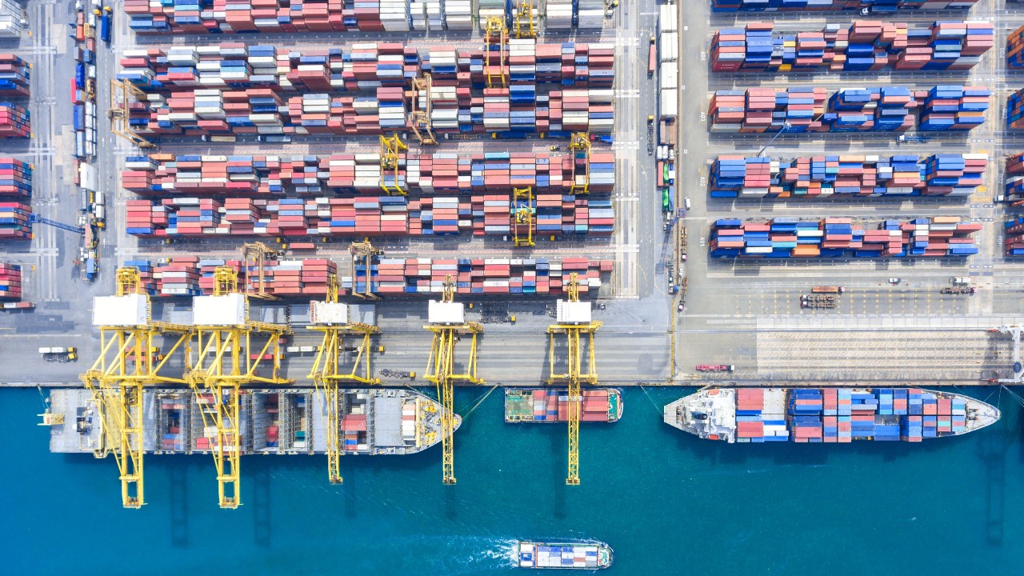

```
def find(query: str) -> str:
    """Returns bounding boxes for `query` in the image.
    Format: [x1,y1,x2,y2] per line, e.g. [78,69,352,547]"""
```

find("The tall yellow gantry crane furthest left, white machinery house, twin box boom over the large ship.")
[81,270,215,510]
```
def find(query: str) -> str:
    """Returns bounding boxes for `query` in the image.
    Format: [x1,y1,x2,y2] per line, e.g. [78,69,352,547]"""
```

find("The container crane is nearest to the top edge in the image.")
[513,0,539,40]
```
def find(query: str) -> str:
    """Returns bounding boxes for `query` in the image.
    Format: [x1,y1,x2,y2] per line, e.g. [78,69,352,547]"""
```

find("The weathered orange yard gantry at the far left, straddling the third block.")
[111,83,158,147]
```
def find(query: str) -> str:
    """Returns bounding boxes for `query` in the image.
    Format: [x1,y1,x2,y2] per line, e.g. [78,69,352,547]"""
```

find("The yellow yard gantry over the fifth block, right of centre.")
[512,184,537,249]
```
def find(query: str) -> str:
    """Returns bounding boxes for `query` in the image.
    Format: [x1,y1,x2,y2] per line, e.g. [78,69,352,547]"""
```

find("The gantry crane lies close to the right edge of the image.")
[974,325,1024,377]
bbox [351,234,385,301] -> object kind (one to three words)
container crane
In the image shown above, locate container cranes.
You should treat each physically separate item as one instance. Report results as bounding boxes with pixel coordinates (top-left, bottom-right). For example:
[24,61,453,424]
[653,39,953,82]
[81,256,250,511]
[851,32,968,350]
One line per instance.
[185,269,300,510]
[512,184,537,249]
[974,325,1024,377]
[111,83,158,147]
[302,272,386,487]
[379,130,411,197]
[569,125,594,196]
[351,234,385,301]
[513,0,539,40]
[541,271,603,488]
[421,272,491,488]
[81,270,215,510]
[245,236,284,302]
[410,76,441,146]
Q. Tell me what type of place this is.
port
